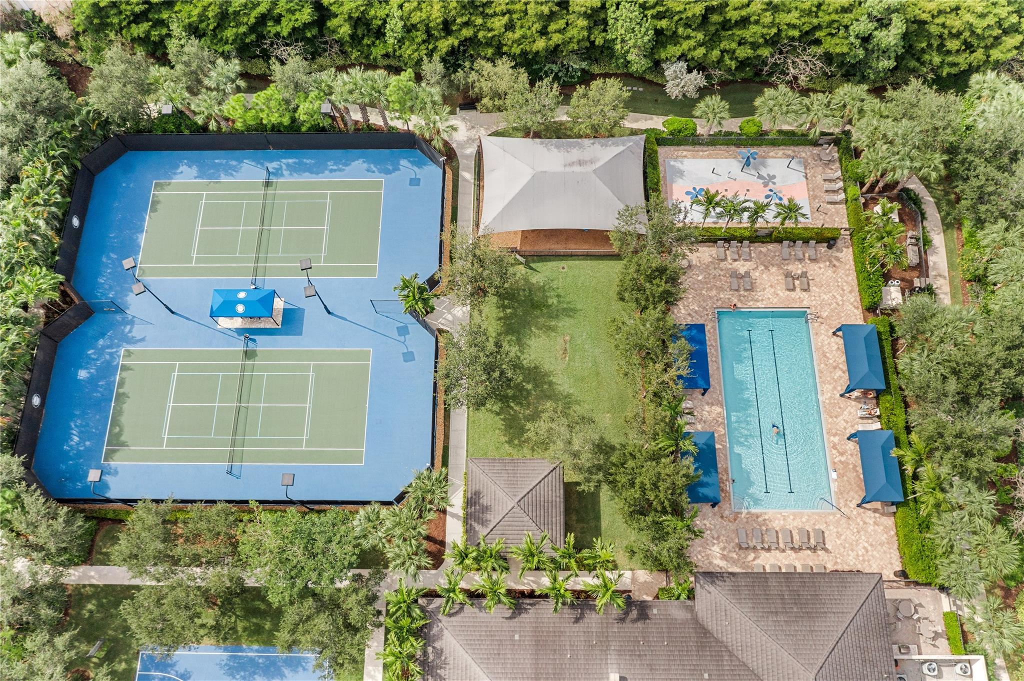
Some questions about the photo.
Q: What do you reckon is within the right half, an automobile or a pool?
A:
pool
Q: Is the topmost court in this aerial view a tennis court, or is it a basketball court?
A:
tennis court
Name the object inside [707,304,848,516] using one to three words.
swimming pool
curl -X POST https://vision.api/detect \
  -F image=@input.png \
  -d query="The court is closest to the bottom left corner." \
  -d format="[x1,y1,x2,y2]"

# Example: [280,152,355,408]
[133,645,340,681]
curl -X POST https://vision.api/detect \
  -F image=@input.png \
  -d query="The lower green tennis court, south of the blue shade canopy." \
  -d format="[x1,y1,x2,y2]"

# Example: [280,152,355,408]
[102,349,371,464]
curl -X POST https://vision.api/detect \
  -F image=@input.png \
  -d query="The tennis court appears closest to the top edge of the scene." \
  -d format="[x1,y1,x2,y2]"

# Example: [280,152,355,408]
[136,179,384,278]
